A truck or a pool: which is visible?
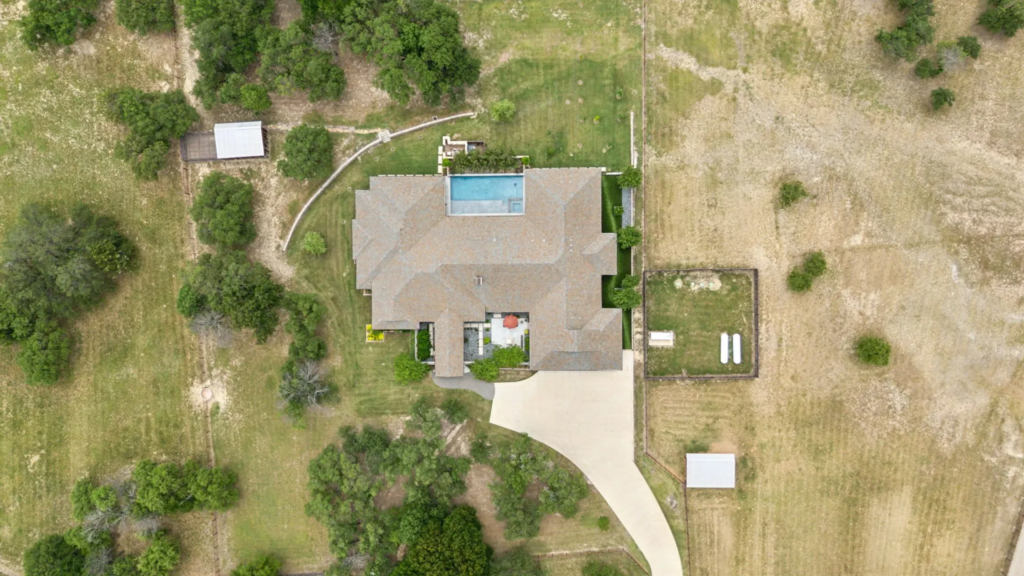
pool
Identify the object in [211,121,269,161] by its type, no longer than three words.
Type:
shed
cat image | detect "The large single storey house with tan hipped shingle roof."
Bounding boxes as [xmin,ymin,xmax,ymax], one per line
[351,168,623,377]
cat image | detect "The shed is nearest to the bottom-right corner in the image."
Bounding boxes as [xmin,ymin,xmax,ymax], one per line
[684,451,738,490]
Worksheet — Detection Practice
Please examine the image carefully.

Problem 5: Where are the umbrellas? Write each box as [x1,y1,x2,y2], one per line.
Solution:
[504,315,517,329]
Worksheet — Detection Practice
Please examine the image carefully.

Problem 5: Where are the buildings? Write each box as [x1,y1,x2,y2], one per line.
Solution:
[211,121,269,161]
[351,168,623,377]
[684,451,738,490]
